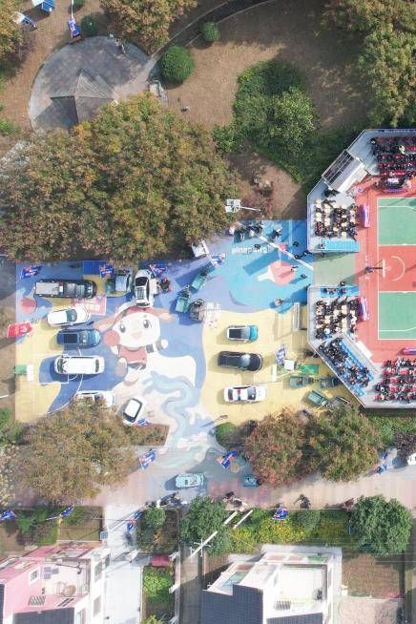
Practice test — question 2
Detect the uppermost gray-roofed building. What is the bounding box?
[37,58,111,127]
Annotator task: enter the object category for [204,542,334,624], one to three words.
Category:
house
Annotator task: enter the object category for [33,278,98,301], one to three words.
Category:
truck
